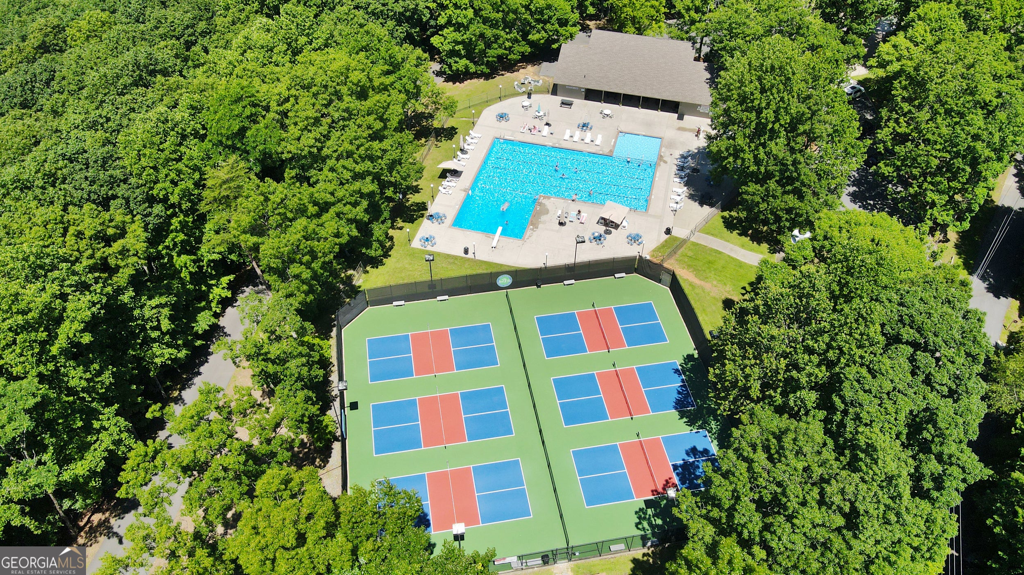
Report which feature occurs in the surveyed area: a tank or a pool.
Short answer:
pool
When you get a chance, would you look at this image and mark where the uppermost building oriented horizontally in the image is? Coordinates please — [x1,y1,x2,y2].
[551,29,720,116]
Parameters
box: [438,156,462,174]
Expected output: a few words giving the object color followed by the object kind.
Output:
white umbrella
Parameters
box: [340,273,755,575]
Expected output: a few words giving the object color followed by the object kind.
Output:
green sports court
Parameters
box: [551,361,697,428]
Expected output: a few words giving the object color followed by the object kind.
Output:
blue sports court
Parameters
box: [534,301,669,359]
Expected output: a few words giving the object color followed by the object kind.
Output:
blue sports court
